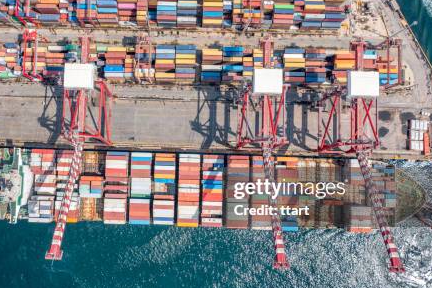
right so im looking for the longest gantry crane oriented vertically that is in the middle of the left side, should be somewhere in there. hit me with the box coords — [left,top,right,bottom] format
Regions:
[45,34,117,261]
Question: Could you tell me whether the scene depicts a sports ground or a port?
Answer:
port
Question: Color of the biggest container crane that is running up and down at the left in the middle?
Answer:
white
